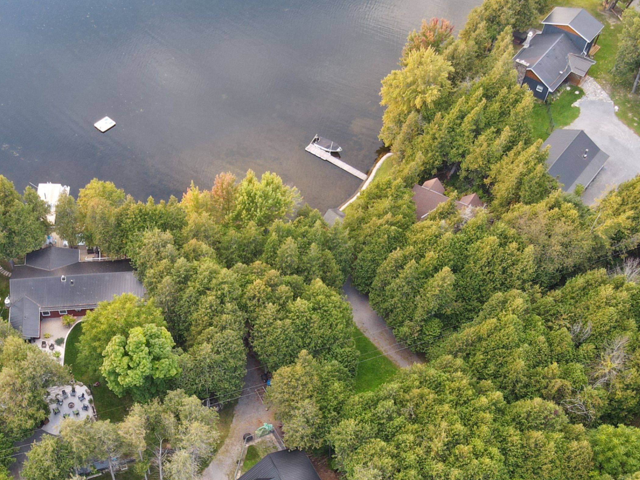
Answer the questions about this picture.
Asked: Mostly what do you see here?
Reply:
trees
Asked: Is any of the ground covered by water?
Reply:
Yes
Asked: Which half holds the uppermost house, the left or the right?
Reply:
right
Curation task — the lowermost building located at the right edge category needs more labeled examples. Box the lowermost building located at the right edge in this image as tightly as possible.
[544,128,614,205]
